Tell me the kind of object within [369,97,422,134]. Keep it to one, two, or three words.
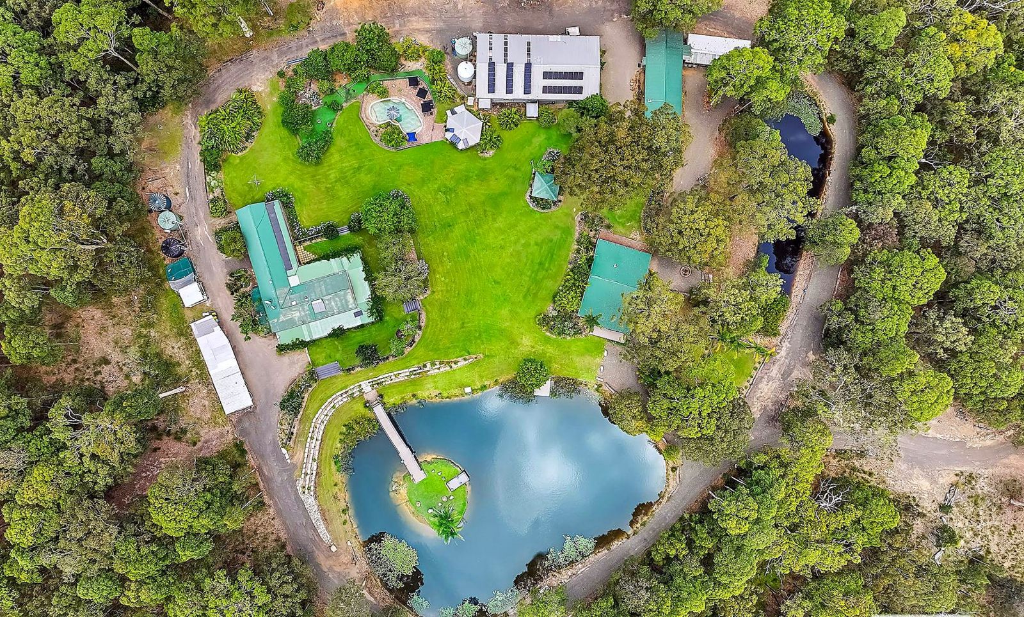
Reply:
swimming pool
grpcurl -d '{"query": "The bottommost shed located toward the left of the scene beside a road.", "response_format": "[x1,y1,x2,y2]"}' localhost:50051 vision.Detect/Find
[190,315,256,415]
